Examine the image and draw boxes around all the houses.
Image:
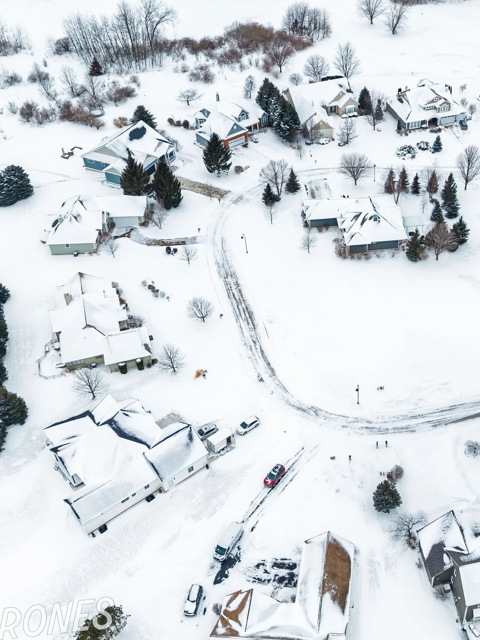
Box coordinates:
[183,92,268,150]
[212,534,354,640]
[289,74,359,138]
[46,186,150,256]
[302,195,425,255]
[386,76,468,131]
[36,276,154,381]
[81,124,177,190]
[417,520,480,640]
[34,390,211,535]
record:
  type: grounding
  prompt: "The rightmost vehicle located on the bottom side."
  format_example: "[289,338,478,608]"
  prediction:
[262,459,290,490]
